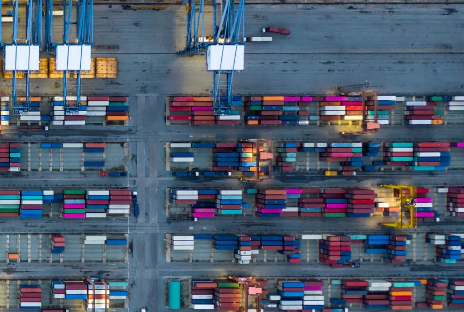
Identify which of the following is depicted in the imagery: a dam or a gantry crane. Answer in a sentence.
There is a gantry crane in the scene.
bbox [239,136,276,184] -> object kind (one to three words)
container crane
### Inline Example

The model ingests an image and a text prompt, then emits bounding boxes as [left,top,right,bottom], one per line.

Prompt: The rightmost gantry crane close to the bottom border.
[229,272,264,312]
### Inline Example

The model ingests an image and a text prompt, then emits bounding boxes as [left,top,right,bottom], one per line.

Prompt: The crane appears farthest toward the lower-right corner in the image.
[376,181,414,230]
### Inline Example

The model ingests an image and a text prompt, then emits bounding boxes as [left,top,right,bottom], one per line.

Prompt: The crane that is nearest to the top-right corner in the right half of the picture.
[341,90,383,138]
